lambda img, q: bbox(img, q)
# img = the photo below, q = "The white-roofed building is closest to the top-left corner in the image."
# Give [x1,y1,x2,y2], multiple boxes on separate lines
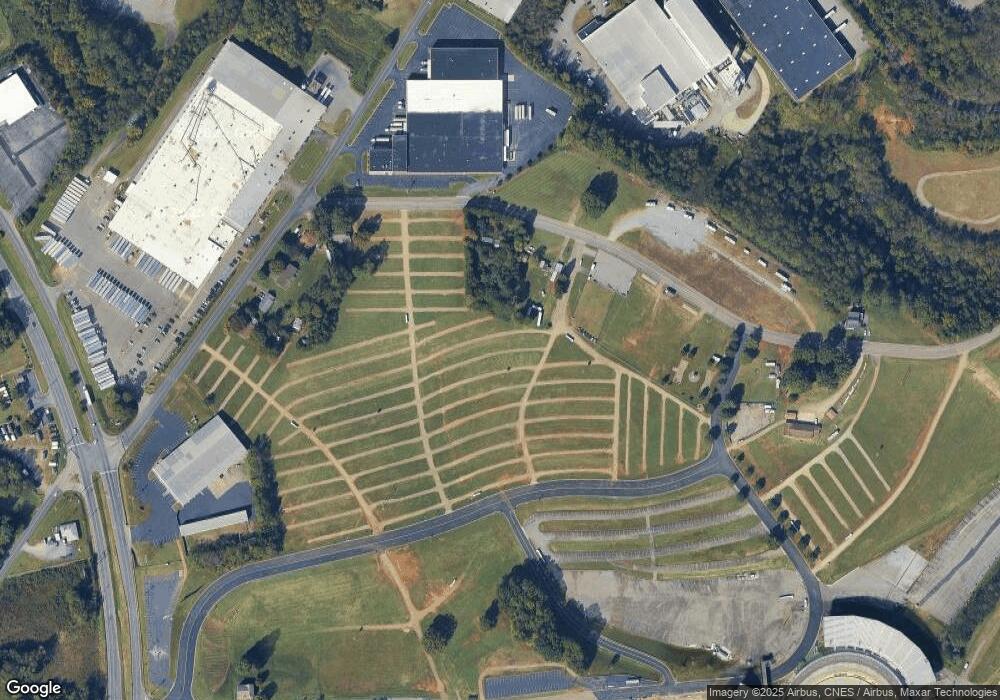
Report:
[0,73,38,125]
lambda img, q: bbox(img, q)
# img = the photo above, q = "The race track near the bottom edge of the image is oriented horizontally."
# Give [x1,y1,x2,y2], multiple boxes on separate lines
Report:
[789,649,903,700]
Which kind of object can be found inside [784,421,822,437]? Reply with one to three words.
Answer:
barn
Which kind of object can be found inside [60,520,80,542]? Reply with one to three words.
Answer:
house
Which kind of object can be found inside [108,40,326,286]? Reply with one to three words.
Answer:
warehouse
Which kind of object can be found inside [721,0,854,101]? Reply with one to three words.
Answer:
building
